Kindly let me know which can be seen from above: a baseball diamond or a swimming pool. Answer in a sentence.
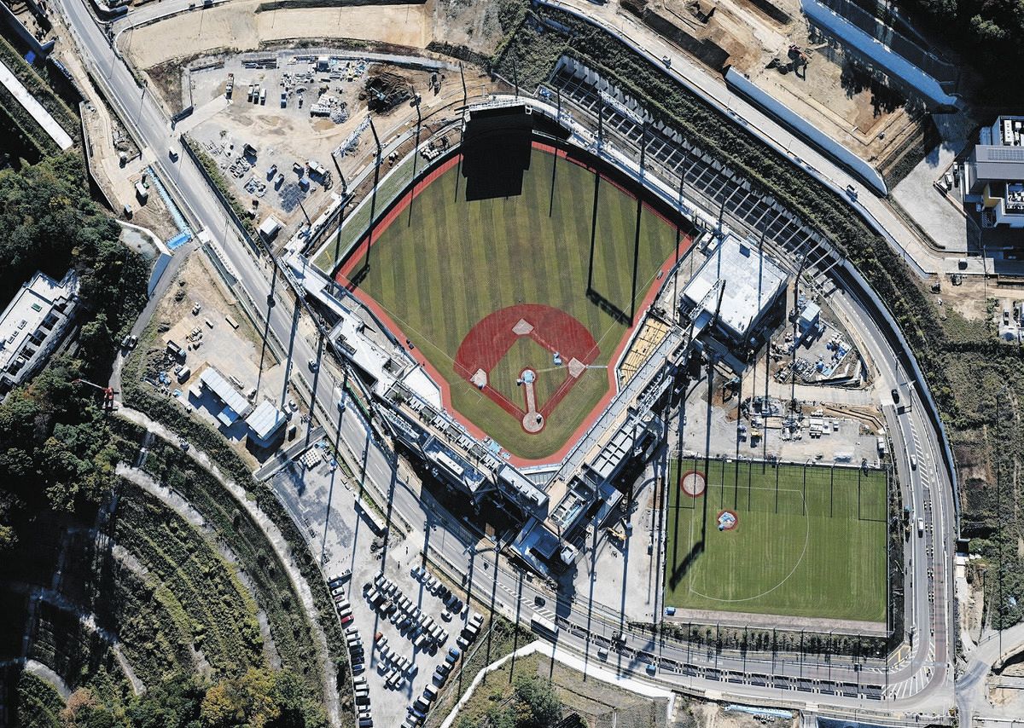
Looking from above, you can make out a baseball diamond.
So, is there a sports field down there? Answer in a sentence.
Yes, the image includes a sports field.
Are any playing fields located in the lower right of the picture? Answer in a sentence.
Yes, the scene does show a playing field in the lower right of the picture.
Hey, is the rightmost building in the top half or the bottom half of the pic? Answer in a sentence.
The rightmost building sits in the top half of the picture.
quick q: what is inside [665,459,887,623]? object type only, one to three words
sports field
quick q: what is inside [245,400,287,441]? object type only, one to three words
building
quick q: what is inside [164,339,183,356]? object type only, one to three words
vehicle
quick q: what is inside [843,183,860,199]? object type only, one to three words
vehicle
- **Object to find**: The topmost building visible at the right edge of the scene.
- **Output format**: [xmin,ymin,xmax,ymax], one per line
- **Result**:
[970,116,1024,223]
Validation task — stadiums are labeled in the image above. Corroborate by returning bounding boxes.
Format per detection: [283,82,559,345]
[283,94,748,586]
